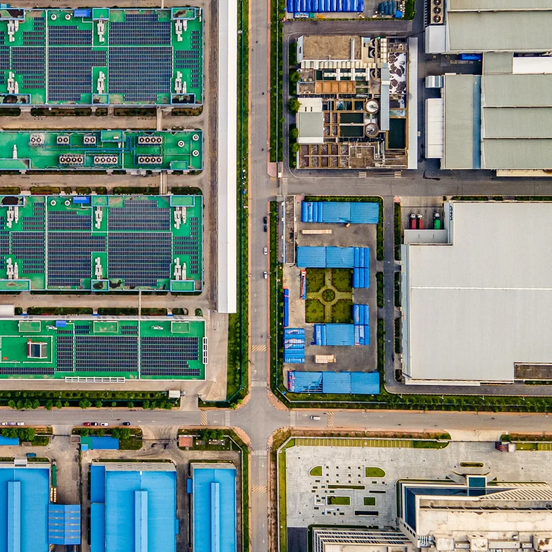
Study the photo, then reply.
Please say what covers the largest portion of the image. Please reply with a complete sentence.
The scene is dominated by buildings.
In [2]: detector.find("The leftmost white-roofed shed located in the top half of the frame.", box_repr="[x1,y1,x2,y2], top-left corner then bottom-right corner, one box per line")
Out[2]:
[214,0,242,313]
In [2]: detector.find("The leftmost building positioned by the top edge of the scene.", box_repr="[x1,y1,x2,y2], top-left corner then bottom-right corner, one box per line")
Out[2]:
[0,7,204,110]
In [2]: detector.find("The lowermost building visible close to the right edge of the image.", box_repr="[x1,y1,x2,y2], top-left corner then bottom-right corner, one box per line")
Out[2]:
[394,473,552,552]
